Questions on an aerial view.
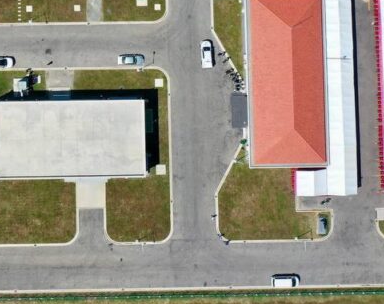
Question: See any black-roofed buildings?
No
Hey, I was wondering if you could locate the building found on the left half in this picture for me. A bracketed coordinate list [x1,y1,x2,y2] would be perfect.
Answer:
[0,92,147,185]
